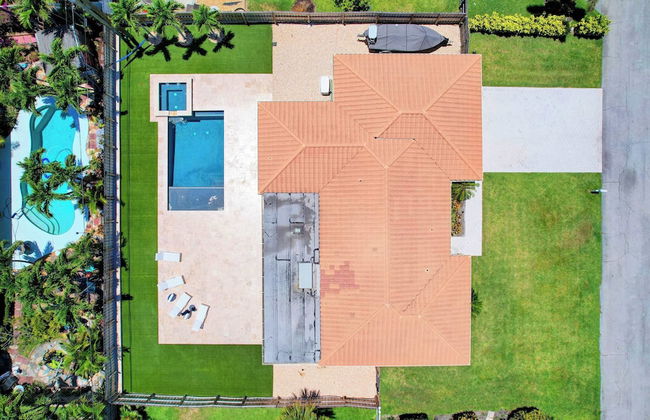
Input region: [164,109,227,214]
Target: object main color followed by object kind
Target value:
blue swimming pool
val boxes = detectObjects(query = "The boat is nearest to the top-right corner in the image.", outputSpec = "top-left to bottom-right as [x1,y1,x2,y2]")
[356,26,449,53]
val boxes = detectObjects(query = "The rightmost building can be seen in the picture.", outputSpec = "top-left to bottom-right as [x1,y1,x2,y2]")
[256,53,484,367]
